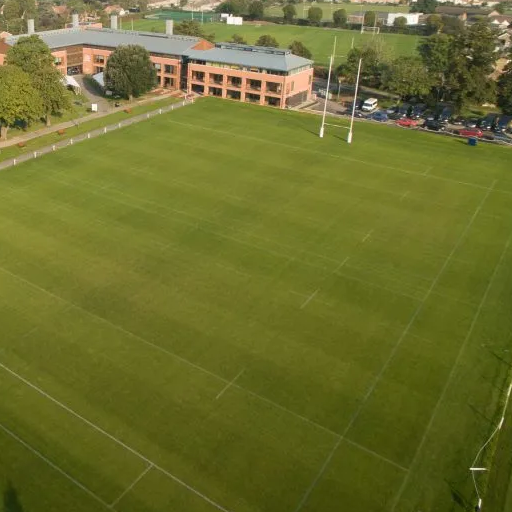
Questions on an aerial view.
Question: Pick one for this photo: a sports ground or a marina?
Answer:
sports ground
